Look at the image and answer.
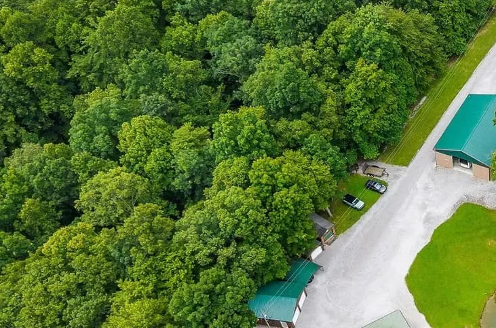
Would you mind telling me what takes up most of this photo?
trees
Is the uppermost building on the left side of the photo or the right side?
right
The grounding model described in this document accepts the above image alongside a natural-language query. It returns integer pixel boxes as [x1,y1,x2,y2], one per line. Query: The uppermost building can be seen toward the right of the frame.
[434,94,496,180]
